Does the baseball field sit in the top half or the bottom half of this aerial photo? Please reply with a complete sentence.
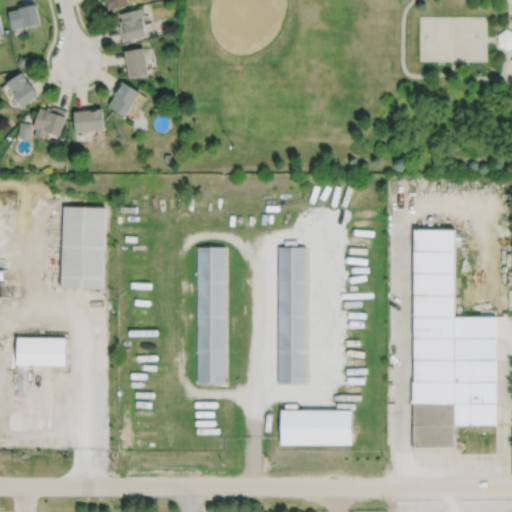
The baseball field sits in the top half of the picture.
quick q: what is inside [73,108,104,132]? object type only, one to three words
house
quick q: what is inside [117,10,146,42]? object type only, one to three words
house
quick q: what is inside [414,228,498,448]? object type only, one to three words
building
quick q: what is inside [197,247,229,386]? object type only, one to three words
shed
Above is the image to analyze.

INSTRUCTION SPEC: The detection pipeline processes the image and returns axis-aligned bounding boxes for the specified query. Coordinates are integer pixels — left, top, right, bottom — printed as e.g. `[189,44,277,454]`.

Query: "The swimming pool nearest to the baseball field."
[153,114,170,131]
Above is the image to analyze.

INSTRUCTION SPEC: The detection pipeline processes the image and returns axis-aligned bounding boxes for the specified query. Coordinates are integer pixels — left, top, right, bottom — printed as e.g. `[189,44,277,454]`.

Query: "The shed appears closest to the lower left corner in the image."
[14,336,66,367]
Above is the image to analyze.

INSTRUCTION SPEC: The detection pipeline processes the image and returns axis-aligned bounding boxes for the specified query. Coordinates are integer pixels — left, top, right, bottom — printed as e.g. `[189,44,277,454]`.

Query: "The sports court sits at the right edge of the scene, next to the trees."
[420,17,488,62]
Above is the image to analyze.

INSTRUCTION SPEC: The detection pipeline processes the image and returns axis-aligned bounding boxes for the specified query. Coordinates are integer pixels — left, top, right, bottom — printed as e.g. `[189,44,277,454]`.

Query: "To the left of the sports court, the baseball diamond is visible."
[182,0,401,119]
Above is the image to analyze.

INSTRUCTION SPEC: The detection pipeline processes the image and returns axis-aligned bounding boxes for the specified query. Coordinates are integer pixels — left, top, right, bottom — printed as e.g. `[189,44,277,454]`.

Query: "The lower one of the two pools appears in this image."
[16,140,32,156]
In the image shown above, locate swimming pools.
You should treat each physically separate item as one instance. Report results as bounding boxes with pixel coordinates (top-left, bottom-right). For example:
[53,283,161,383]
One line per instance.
[16,140,32,156]
[153,114,170,131]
